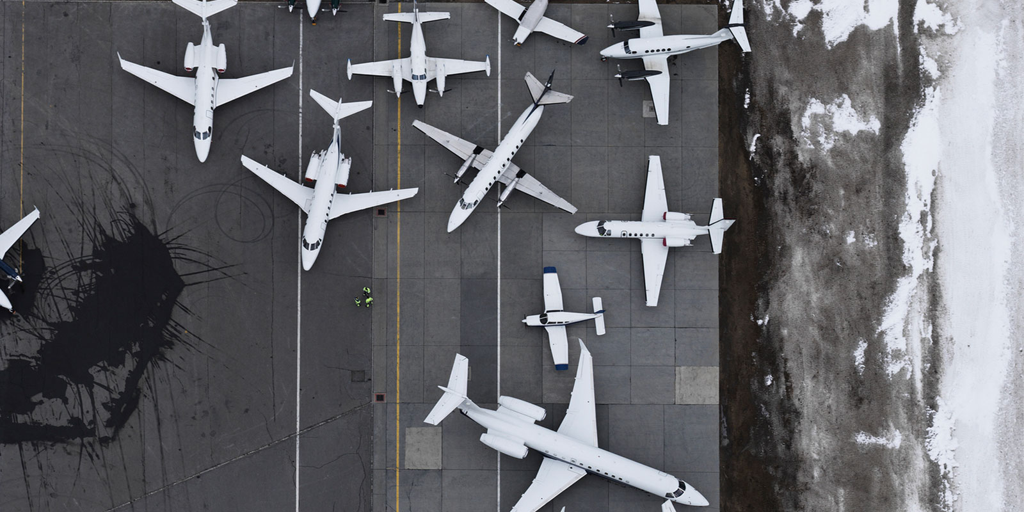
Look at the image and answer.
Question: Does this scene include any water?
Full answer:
No, the picture contains no water.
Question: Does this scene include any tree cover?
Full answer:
No, no tree cover is visible.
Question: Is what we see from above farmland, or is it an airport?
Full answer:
The area seen from above is an airport.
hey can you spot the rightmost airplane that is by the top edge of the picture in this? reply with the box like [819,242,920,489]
[600,0,752,125]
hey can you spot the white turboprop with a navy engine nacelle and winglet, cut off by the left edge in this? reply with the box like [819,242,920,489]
[0,199,35,308]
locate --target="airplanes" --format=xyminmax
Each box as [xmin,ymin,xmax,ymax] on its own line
[523,264,606,372]
[0,199,35,308]
[117,0,294,164]
[411,70,577,233]
[423,339,709,512]
[487,0,590,49]
[575,156,737,305]
[600,0,752,125]
[347,0,491,109]
[660,501,676,512]
[243,88,415,271]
